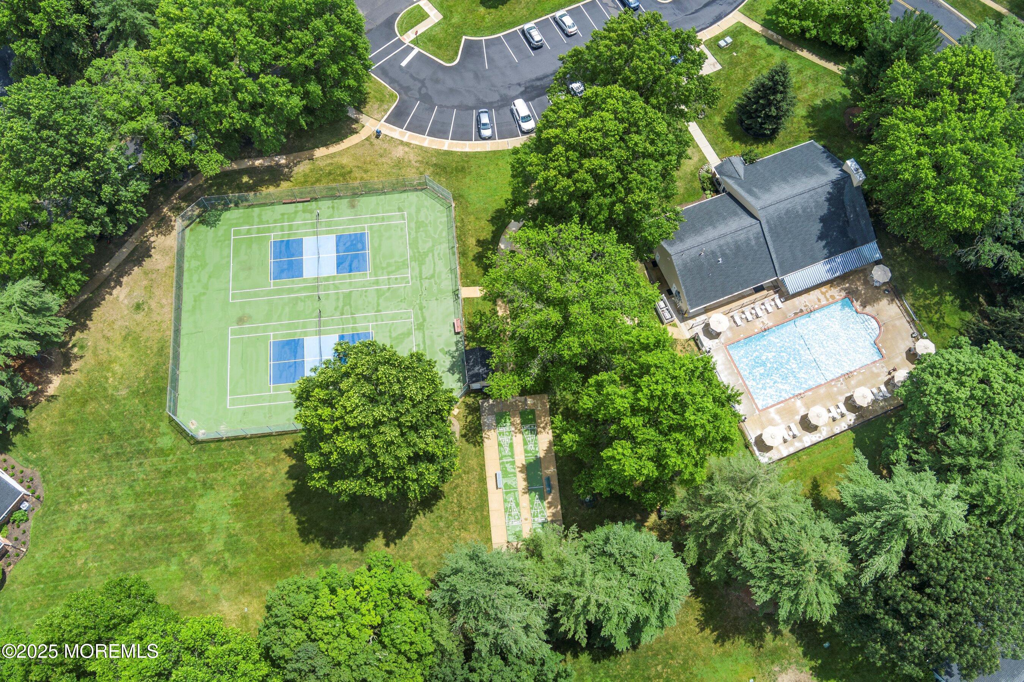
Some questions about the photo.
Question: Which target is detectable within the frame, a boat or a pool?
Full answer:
It is a pool that can be seen here.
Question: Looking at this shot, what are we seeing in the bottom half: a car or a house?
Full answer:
You can see a house in the bottom half.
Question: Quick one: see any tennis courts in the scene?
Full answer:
Yes, the image includes a tennis court.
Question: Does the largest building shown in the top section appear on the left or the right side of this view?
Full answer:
The largest building shown in the top section sits on the right side.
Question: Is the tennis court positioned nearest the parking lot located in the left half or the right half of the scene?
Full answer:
The tennis court positioned nearest the parking lot is on the left side of the image.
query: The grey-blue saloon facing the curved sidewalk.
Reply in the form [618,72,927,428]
[477,109,493,139]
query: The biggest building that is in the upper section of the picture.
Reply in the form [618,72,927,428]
[644,141,877,314]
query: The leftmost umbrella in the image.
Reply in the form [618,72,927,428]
[708,313,729,333]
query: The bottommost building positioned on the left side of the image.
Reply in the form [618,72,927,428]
[0,532,38,566]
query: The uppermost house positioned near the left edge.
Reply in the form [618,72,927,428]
[0,471,47,529]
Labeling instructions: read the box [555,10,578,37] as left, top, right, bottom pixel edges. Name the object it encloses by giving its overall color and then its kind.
white car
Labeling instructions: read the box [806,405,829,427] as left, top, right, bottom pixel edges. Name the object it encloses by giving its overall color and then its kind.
white umbrella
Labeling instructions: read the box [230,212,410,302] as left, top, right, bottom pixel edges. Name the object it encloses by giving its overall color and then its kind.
green tennis court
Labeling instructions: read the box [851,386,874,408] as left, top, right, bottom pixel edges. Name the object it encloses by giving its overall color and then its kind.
white umbrella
